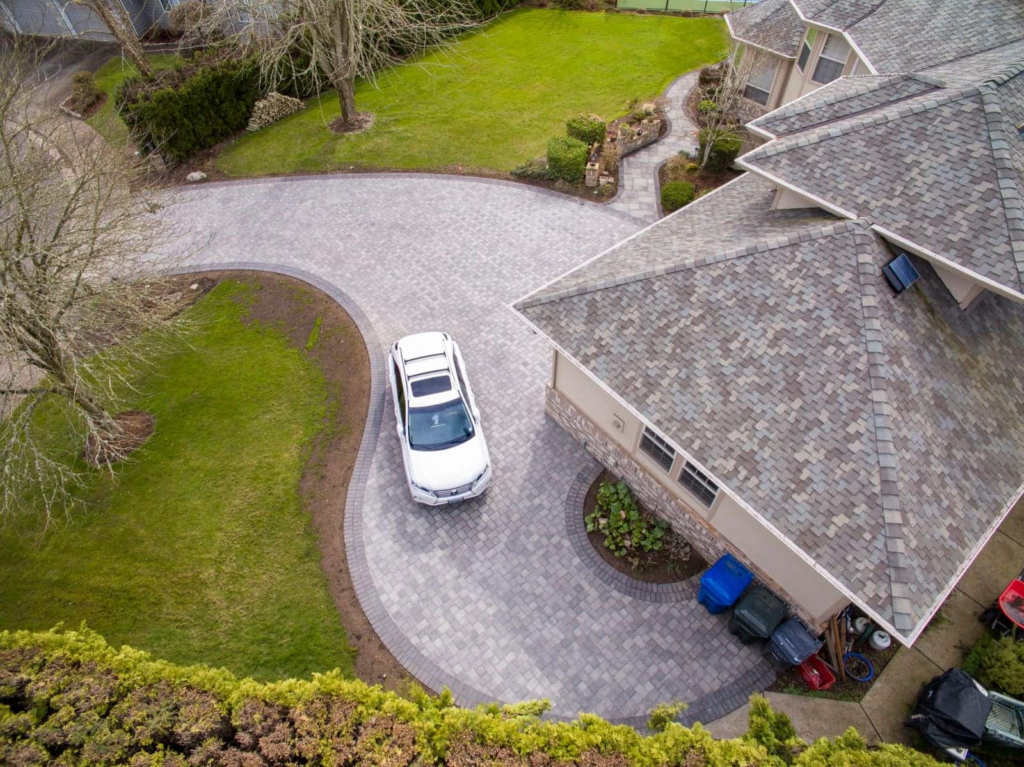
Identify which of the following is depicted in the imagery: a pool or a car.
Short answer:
car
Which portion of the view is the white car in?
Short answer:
center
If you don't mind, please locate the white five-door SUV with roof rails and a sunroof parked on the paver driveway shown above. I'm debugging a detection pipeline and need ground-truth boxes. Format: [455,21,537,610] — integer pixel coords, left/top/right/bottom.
[384,333,488,507]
